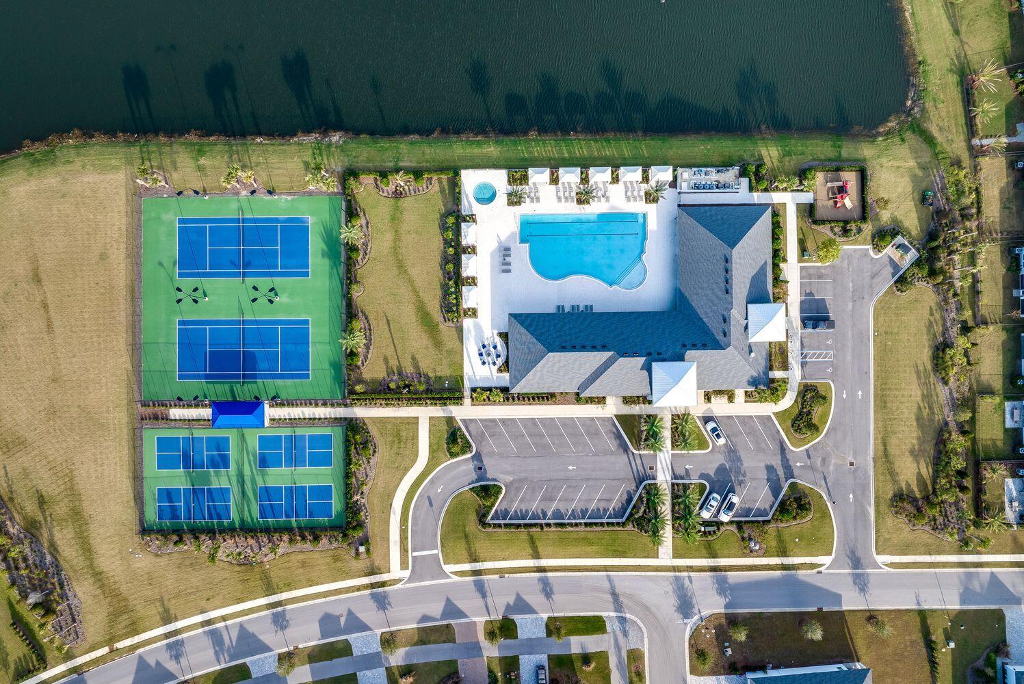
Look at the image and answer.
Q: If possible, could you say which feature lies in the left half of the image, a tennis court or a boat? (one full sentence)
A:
Visible in the left half of the image is a tennis court.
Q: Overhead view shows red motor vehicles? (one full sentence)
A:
No, there appears to be no red motor vehicle in this shot.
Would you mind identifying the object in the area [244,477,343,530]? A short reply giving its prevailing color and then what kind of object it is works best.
blue sports court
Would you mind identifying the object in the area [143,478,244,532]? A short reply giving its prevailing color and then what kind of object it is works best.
blue sports court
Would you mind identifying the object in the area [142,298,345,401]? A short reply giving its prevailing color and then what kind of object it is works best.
green tennis court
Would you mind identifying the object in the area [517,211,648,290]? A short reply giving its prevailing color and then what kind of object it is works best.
blue swimming pool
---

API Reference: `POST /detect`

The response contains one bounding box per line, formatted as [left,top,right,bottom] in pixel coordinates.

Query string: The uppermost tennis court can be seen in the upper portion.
[142,196,344,299]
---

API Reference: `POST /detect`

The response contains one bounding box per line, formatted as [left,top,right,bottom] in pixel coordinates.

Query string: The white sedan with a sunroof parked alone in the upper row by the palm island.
[705,420,725,447]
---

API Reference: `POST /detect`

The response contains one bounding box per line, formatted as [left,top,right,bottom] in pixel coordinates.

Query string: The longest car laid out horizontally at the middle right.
[802,318,836,331]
